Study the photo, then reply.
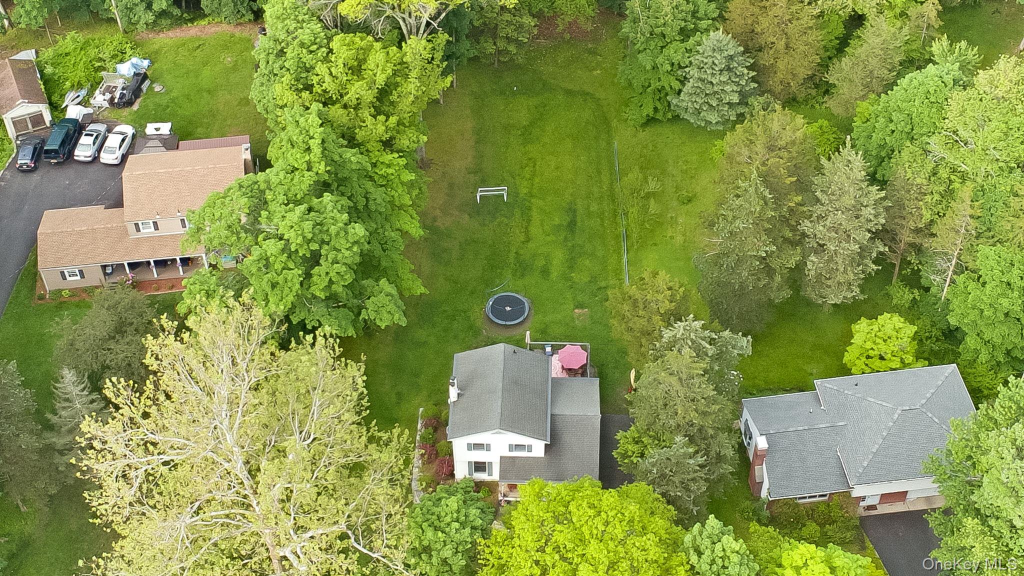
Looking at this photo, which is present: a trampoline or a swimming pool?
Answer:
trampoline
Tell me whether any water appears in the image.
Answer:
No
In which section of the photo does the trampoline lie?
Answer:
center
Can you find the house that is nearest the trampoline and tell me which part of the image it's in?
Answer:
bottom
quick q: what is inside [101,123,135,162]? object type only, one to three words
car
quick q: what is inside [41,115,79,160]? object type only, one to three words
truck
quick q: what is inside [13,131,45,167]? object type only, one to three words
car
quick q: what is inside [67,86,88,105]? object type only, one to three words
boat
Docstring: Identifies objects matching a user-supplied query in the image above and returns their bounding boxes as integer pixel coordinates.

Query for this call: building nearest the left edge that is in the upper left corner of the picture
[0,50,51,133]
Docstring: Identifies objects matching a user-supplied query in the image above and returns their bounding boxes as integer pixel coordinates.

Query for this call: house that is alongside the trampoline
[445,342,599,502]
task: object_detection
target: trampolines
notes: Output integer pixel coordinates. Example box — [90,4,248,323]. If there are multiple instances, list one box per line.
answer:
[486,278,530,325]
